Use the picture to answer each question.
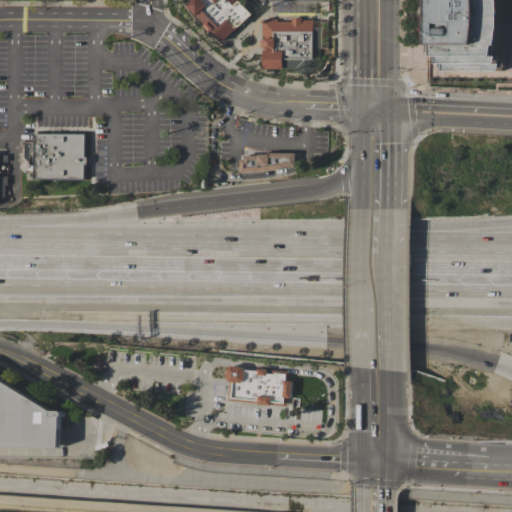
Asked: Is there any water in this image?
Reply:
No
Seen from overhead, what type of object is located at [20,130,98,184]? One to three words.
building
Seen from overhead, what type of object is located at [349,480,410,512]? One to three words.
bridge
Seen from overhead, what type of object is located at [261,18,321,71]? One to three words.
building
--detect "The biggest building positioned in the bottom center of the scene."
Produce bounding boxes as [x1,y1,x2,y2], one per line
[226,367,301,407]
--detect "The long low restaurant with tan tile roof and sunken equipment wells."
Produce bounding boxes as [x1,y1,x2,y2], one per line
[238,146,296,174]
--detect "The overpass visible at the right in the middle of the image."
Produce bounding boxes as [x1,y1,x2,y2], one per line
[345,204,410,373]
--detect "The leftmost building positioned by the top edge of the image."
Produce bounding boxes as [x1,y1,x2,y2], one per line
[184,0,254,42]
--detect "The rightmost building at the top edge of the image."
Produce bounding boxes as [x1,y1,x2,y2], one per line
[418,0,496,71]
